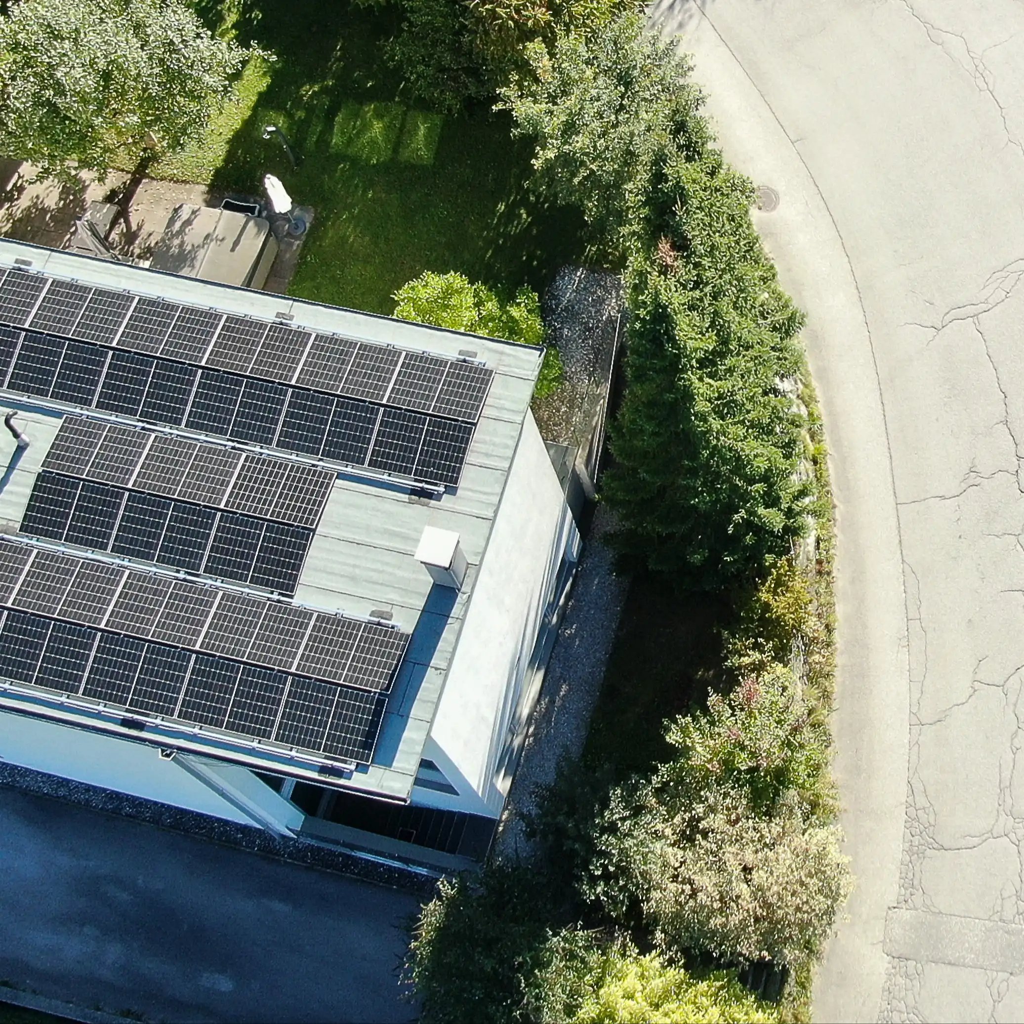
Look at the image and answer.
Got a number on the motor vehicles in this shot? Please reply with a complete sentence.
There are no motor vehicles in this view.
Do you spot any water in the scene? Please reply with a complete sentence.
No, water can't be seen anywhere here.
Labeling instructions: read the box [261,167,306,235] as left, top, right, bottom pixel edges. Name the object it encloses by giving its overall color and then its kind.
white umbrella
